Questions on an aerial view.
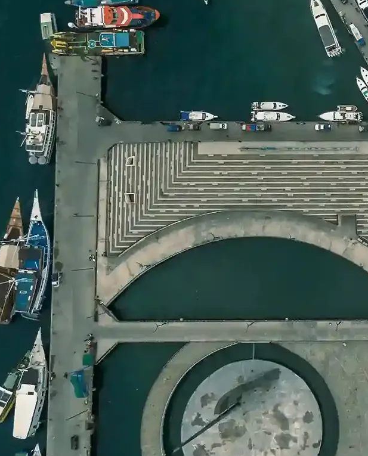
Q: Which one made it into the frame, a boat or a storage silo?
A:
boat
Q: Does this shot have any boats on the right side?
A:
Yes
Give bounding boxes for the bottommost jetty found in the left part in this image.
[46,56,105,456]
